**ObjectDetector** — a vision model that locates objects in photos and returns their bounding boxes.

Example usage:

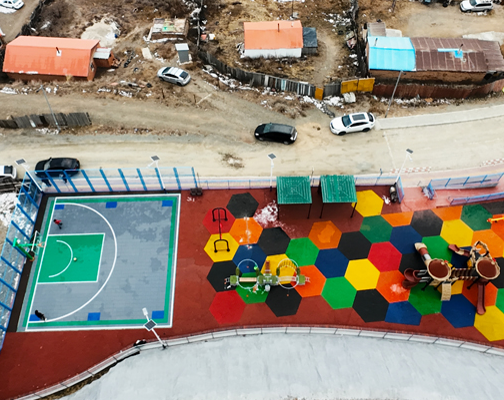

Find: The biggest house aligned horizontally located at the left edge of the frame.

[1,36,101,83]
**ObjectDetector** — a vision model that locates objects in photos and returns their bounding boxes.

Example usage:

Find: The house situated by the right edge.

[365,38,504,83]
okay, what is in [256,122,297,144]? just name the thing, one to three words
car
